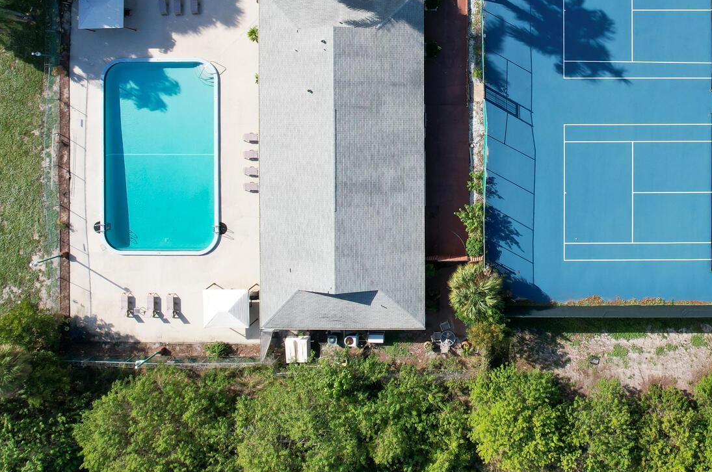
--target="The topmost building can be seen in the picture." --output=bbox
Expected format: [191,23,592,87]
[257,0,425,331]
